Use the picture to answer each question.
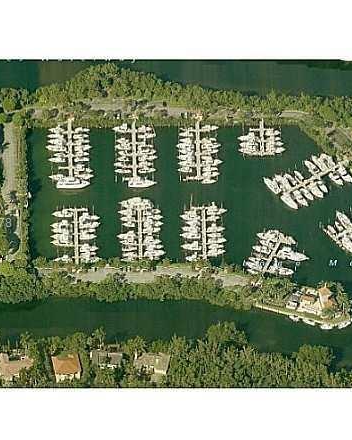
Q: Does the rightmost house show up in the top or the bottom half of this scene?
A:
bottom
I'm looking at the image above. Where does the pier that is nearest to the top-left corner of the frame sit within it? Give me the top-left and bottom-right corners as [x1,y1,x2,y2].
[55,116,86,181]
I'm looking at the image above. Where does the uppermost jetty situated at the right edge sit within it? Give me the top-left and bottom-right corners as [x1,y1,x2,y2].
[268,160,347,208]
